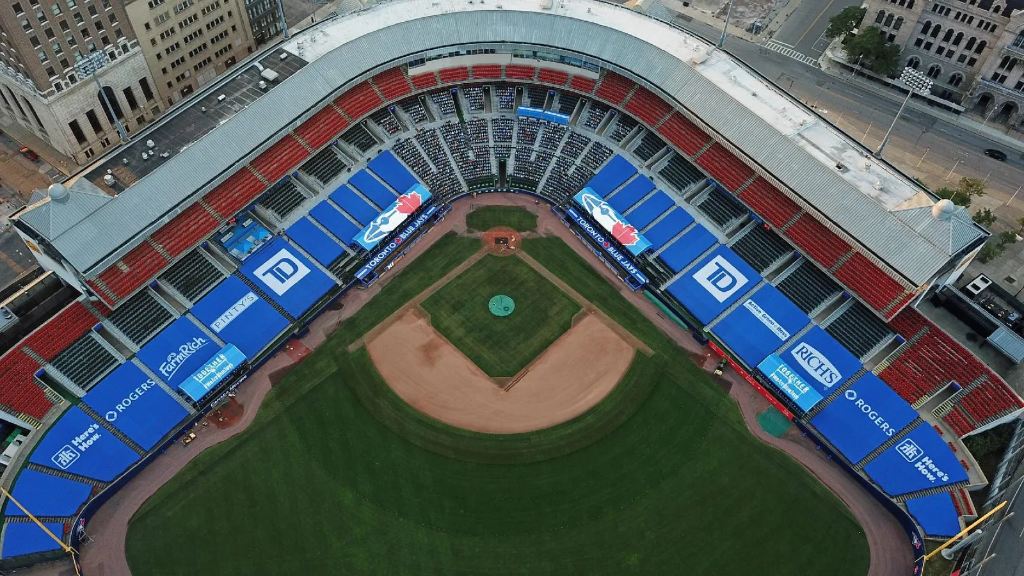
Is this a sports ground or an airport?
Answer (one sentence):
The area seen from above is a sports ground.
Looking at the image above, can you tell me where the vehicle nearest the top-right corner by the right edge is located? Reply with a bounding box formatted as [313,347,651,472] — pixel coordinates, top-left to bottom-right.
[986,146,1007,159]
